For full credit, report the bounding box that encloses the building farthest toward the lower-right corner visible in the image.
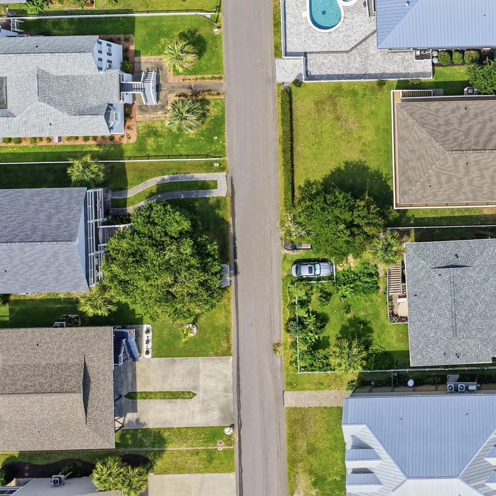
[342,388,496,496]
